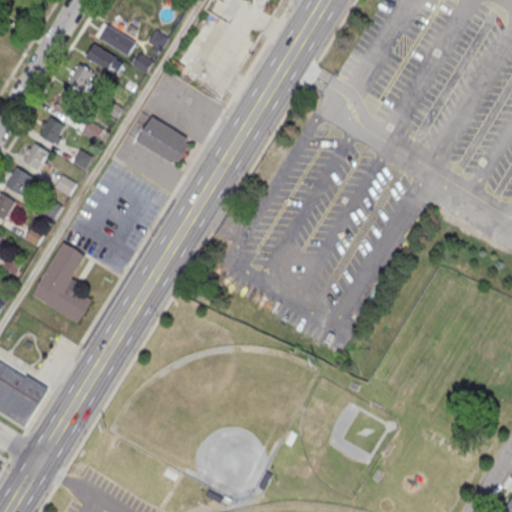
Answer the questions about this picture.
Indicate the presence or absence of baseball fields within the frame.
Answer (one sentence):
Yes, a baseball field is visible in the scene.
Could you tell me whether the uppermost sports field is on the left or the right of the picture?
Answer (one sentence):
You can find the uppermost sports field on the right side of the picture.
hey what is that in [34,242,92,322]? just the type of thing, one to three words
building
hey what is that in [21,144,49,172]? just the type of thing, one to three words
house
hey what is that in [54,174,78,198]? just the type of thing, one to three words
building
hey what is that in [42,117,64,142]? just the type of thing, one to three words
house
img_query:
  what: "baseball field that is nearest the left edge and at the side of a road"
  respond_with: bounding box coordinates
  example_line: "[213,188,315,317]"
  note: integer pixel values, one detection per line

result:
[110,345,318,500]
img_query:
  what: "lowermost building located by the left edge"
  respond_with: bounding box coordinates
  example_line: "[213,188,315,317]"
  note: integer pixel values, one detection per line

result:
[0,359,48,428]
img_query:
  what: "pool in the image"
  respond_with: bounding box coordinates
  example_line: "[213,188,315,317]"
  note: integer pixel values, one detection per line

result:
[158,2,176,25]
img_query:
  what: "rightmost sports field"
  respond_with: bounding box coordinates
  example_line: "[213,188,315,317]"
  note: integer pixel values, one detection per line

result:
[371,267,512,420]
